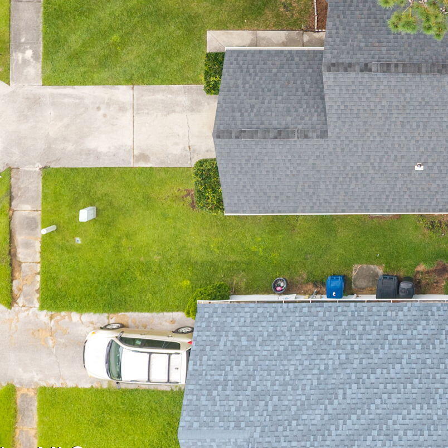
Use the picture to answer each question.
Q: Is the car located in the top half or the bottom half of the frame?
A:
bottom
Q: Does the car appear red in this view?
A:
No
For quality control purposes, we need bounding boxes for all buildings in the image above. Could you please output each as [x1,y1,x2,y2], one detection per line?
[177,289,448,448]
[212,0,448,216]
